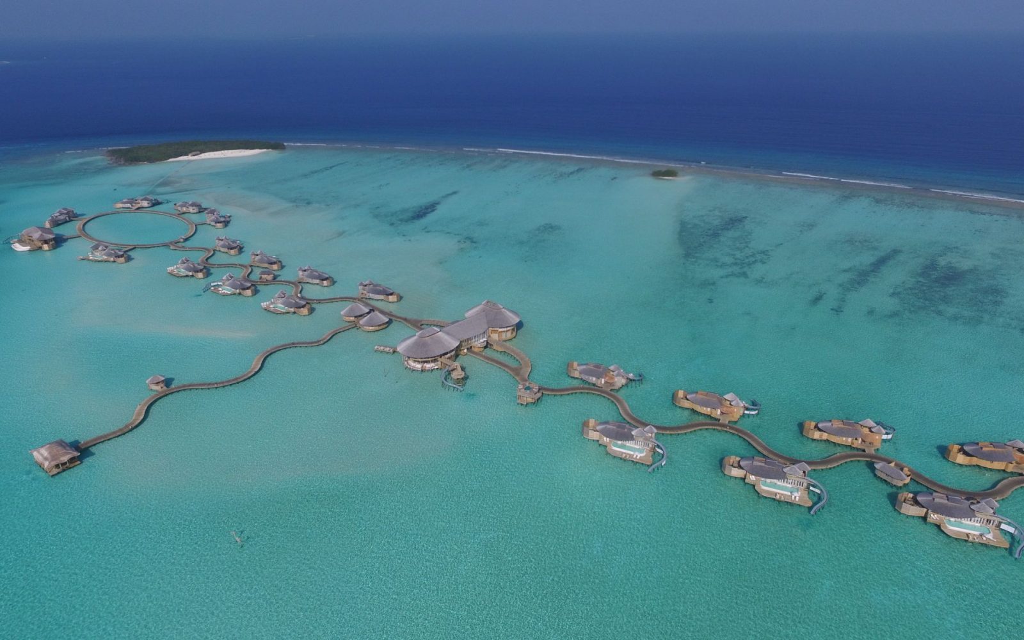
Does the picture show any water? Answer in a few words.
Yes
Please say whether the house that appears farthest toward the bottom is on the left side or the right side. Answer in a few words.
right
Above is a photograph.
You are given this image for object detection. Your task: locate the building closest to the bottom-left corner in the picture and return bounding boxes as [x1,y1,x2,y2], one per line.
[30,438,82,477]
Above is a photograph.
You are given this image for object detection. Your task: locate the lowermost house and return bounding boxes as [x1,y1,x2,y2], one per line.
[894,494,1024,561]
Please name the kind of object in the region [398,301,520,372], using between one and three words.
building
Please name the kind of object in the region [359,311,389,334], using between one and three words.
building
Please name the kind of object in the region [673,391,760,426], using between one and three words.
house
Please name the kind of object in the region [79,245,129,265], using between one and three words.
house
